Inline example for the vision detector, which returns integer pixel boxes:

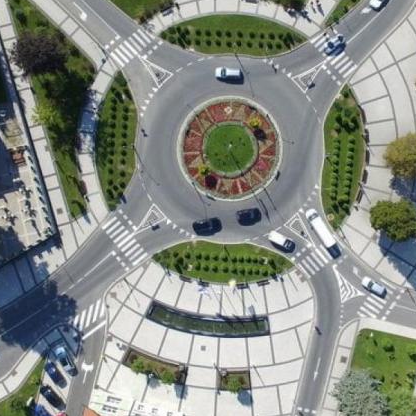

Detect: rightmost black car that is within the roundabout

[236,208,263,223]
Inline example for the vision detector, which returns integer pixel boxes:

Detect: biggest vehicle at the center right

[303,208,338,249]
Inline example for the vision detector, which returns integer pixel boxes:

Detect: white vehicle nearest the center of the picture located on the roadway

[268,230,296,250]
